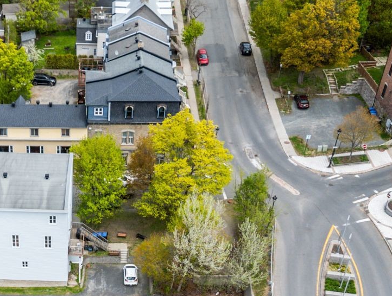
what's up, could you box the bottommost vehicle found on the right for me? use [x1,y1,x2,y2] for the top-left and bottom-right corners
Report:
[295,93,310,107]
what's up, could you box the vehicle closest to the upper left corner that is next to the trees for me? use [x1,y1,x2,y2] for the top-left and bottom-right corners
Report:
[32,73,57,86]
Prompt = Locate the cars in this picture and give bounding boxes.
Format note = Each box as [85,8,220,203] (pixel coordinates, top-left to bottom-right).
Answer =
[197,49,210,62]
[121,261,139,287]
[240,40,253,53]
[32,73,57,86]
[295,93,310,107]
